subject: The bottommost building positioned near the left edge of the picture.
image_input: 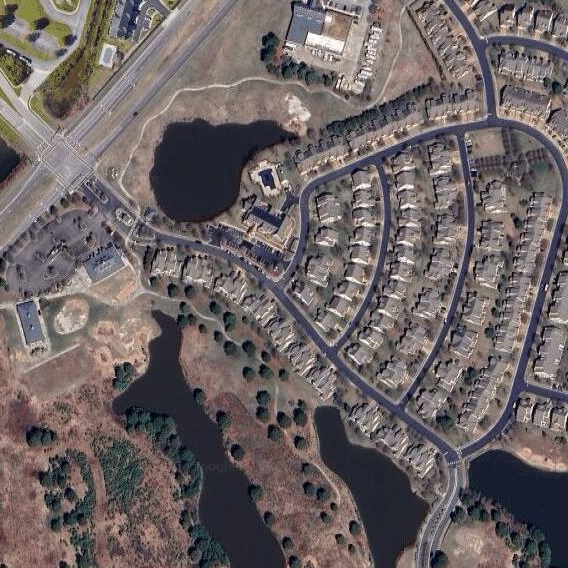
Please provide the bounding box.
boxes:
[18,302,45,346]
